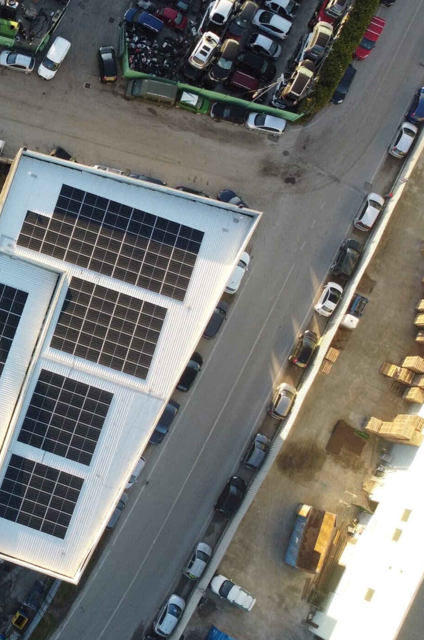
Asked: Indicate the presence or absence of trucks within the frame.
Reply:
Yes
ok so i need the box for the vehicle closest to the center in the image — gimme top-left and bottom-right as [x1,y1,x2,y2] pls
[200,301,229,340]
